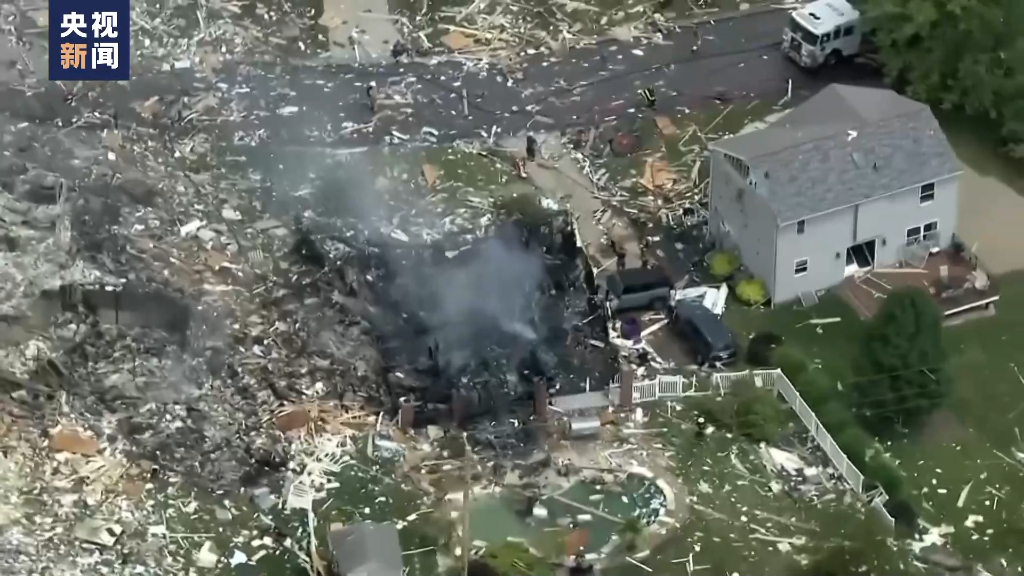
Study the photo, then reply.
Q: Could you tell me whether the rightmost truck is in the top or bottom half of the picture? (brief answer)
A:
top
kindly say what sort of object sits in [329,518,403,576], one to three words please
shed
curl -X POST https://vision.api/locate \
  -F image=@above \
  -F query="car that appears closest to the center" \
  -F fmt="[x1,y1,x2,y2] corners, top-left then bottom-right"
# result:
[595,274,677,321]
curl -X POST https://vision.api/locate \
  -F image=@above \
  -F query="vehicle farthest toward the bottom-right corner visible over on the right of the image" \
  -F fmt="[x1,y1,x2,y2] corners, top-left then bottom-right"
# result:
[672,289,742,362]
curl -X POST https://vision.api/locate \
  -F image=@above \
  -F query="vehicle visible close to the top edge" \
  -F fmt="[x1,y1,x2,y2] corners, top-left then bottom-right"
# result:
[788,0,869,68]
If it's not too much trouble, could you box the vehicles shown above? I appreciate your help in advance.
[672,289,742,362]
[788,0,869,68]
[595,274,677,321]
